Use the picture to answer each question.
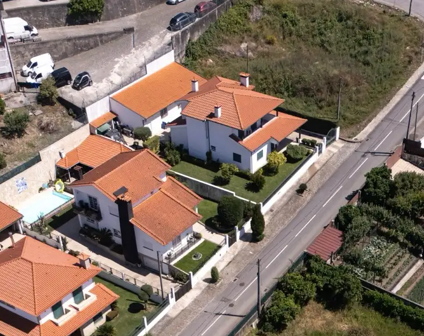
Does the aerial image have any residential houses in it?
Yes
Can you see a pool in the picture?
Yes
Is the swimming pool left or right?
left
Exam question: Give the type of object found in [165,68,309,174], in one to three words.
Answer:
house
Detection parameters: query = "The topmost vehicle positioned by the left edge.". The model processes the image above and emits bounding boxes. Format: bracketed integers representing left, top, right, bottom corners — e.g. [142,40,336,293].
[0,13,43,39]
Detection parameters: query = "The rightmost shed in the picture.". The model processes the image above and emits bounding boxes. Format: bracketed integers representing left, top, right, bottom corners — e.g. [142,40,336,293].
[307,225,344,267]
